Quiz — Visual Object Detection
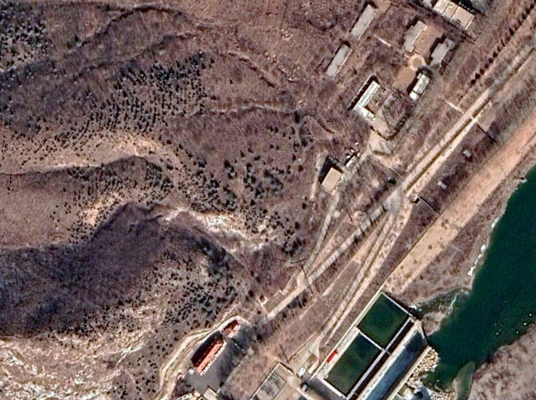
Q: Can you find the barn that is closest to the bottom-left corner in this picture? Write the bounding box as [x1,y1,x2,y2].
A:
[194,340,223,372]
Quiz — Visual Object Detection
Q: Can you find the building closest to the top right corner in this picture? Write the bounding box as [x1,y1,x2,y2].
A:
[433,0,474,31]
